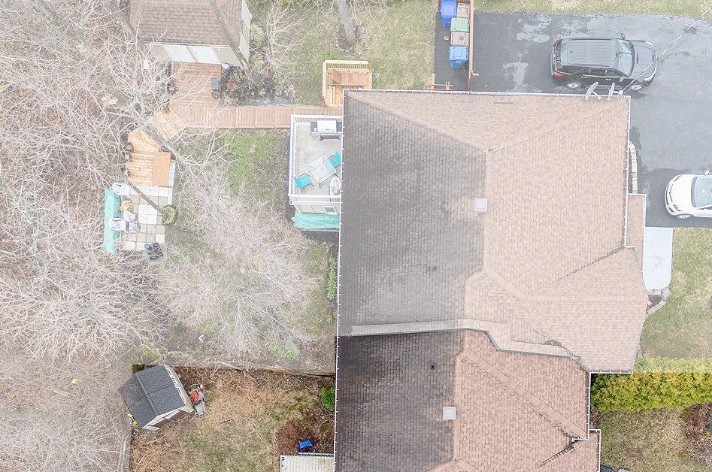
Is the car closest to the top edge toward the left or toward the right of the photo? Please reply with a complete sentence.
It is on the right.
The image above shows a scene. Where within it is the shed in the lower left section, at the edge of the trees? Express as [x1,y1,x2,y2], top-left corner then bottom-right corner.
[119,366,195,427]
